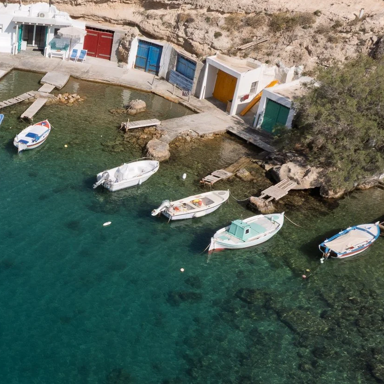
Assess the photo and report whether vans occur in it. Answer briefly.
No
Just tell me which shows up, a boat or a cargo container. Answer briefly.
boat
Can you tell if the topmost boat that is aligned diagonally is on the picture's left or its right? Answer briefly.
left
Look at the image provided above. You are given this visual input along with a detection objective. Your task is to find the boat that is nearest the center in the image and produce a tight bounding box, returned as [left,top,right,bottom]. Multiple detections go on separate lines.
[151,186,229,225]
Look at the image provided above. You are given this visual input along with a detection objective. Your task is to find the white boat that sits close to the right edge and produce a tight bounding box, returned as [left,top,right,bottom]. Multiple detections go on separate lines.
[320,215,382,264]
